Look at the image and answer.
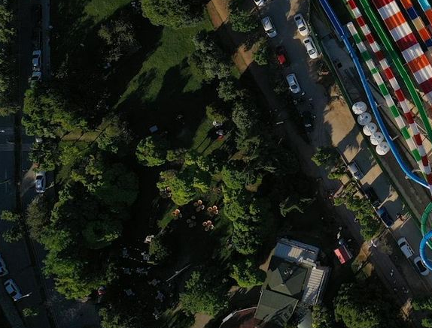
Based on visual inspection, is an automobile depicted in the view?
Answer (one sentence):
Yes, there's an automobile down there.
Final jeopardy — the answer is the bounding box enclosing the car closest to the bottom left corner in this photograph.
[4,278,23,301]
